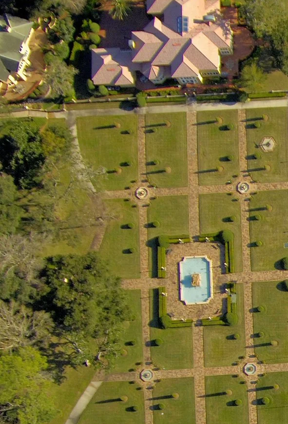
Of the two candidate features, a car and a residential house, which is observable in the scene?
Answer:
residential house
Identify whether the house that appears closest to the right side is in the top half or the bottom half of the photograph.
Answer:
top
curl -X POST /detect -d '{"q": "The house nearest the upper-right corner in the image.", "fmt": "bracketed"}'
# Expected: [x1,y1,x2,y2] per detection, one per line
[92,0,236,87]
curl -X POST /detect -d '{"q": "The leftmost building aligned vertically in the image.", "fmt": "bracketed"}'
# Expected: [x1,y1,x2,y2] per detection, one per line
[0,13,40,101]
